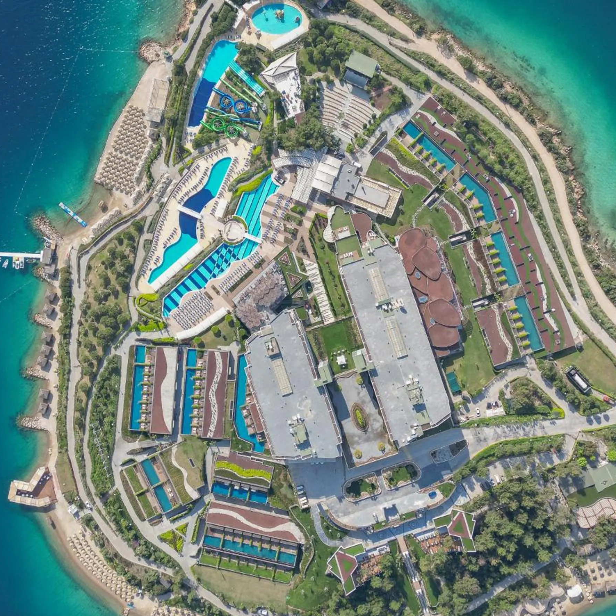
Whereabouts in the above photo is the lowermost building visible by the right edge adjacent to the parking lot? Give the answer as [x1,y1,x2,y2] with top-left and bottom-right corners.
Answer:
[554,459,616,526]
